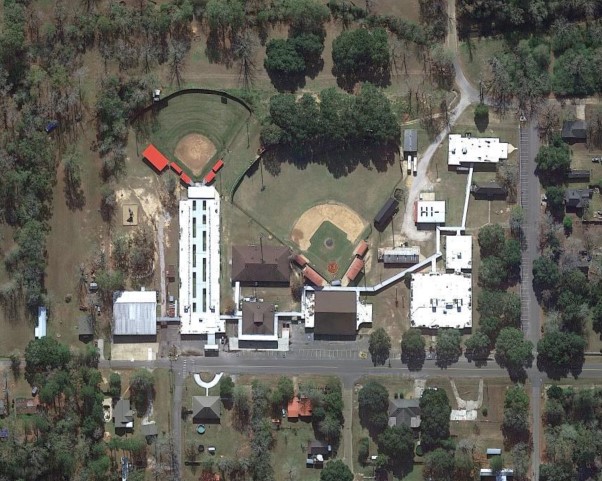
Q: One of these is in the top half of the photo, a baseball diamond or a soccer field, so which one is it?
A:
baseball diamond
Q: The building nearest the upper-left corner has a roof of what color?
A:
red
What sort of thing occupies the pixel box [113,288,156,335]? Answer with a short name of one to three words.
building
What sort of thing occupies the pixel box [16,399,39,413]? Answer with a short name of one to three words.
house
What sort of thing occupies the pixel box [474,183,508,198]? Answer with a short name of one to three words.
shed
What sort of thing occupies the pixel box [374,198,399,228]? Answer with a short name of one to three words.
shed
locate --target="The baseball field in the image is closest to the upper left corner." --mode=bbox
[140,92,249,182]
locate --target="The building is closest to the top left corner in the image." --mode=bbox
[142,145,169,171]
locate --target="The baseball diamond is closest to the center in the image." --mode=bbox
[233,101,403,282]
